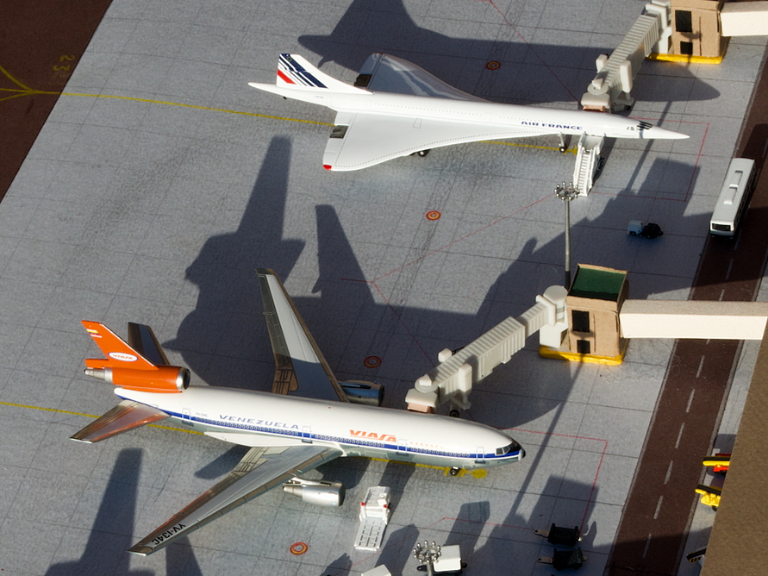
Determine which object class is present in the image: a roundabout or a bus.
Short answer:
bus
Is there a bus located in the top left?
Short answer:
No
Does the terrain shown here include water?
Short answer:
No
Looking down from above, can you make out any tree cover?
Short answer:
No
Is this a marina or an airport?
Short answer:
airport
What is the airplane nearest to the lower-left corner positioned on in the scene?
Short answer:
apron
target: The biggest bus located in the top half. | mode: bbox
[711,159,754,238]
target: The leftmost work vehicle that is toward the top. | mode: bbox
[628,213,667,236]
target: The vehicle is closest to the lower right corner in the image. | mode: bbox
[685,553,706,574]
